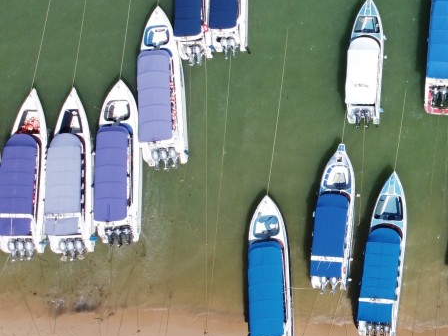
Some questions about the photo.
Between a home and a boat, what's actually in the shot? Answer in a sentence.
Visible in the photo is a boat.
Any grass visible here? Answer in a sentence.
No, there is no grass in the image.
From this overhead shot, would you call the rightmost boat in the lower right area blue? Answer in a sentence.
Yes, the rightmost boat in the lower right area is blue.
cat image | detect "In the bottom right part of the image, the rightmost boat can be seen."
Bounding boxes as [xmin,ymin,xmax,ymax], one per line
[357,170,406,336]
